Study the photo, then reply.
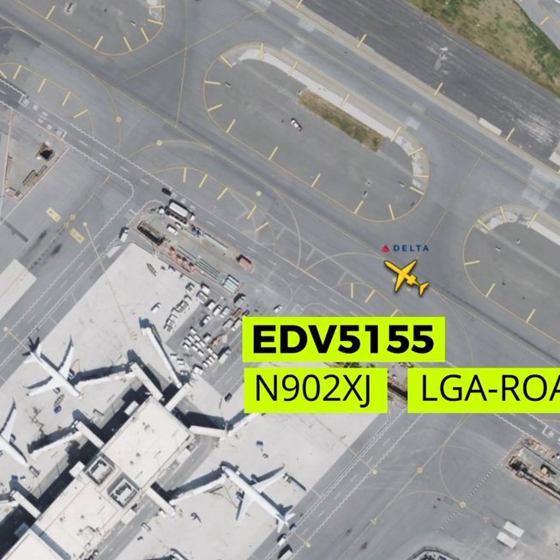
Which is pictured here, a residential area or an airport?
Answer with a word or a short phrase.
airport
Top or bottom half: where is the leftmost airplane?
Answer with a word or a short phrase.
bottom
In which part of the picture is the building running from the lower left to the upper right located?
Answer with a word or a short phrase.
bottom left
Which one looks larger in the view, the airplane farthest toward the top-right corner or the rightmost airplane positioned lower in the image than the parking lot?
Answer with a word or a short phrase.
the rightmost airplane positioned lower in the image than the parking lot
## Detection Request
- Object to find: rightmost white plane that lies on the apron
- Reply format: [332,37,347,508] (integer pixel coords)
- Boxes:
[222,466,296,533]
